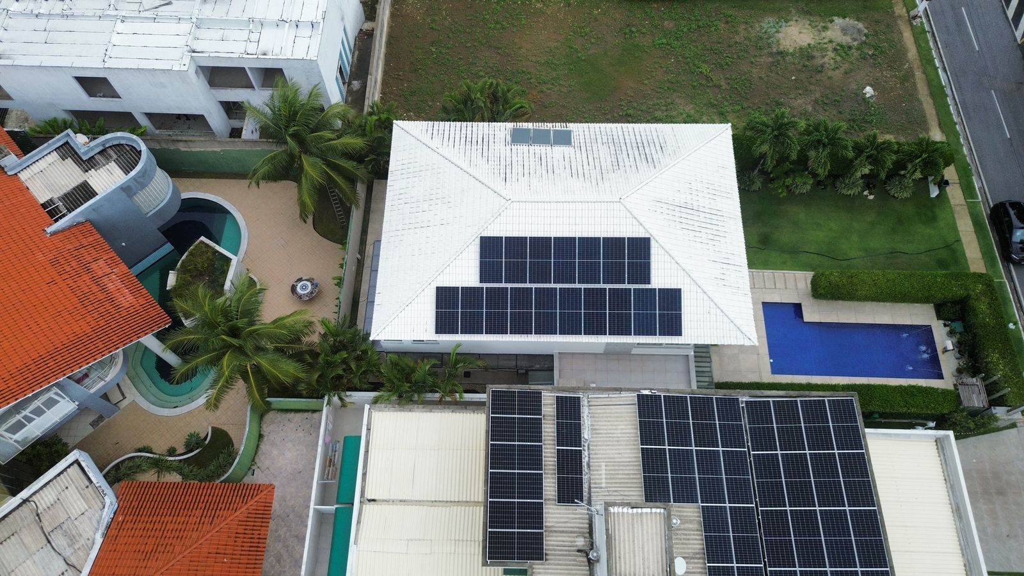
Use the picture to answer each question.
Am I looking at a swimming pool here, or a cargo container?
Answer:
swimming pool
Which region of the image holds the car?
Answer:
right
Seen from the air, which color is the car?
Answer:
black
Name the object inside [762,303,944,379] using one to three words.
swimming pool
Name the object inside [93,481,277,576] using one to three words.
house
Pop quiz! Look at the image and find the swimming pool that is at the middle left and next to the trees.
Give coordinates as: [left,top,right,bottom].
[135,195,240,408]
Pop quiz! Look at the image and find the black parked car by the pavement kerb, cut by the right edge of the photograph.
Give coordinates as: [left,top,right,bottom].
[992,198,1024,269]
